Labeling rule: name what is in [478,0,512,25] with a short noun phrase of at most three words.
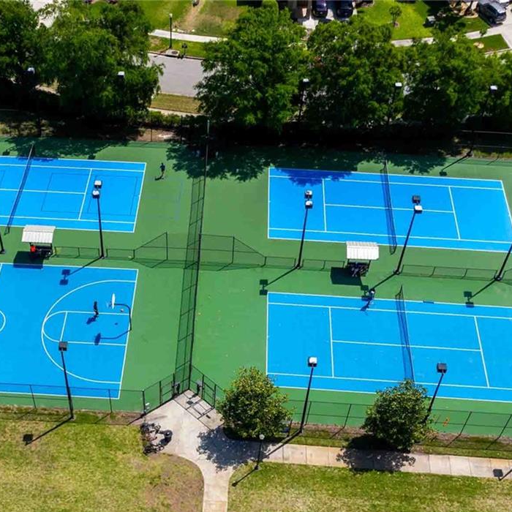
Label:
car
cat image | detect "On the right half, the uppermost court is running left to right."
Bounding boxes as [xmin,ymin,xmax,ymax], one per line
[201,145,512,280]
